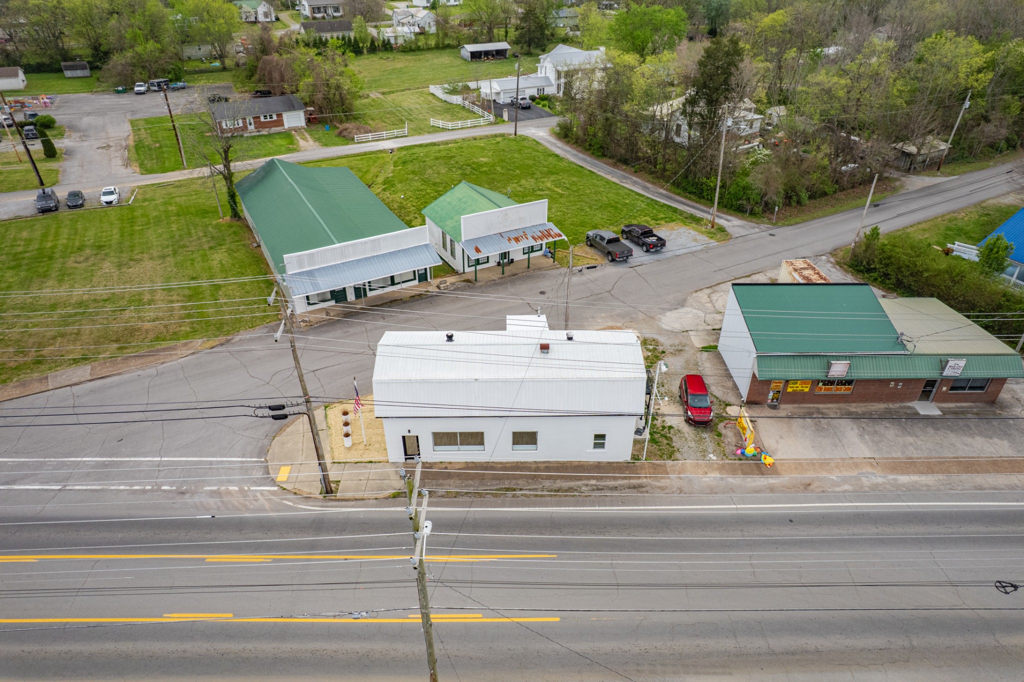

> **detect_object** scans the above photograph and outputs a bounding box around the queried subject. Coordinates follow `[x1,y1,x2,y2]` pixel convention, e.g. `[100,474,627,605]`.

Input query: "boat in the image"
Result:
[170,78,193,90]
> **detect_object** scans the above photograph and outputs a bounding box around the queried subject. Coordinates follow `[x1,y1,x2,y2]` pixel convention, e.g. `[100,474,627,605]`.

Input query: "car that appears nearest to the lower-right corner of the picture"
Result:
[678,370,718,429]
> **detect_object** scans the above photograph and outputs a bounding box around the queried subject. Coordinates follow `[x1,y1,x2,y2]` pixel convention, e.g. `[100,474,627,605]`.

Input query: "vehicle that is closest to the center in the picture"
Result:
[582,225,639,262]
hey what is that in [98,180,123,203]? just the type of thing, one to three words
car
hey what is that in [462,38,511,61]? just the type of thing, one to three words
shed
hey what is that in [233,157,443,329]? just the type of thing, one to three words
building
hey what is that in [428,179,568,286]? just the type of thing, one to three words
building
